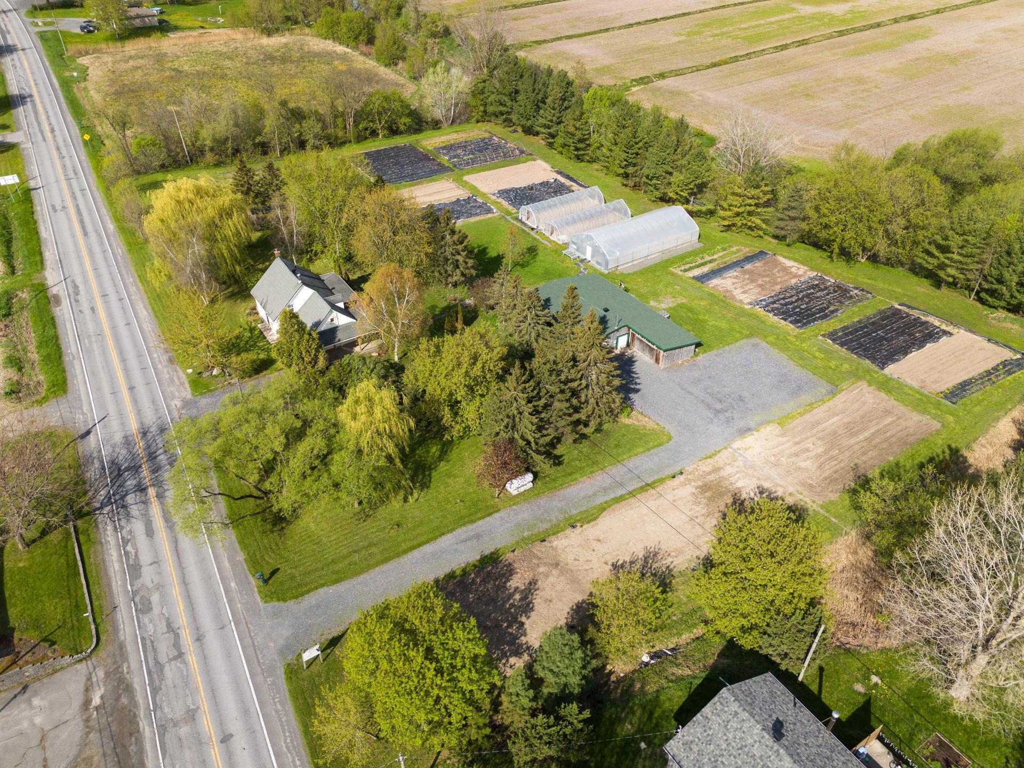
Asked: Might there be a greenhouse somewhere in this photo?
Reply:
Yes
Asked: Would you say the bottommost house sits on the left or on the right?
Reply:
right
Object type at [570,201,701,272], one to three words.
greenhouse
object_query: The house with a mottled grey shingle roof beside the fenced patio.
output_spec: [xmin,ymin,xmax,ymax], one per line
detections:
[660,665,870,768]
